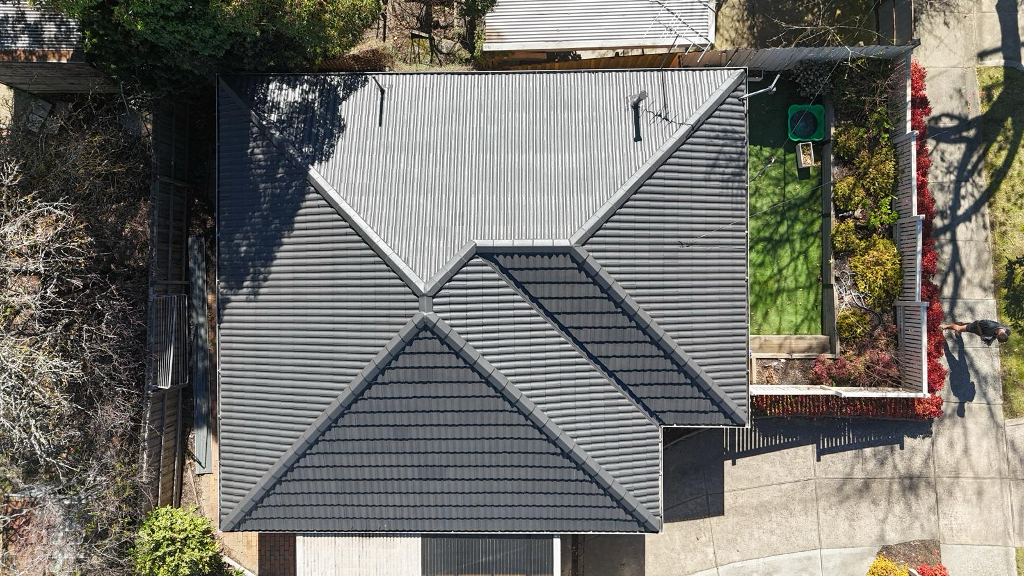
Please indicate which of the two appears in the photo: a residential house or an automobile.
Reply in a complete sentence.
The one in the frame is a residential house.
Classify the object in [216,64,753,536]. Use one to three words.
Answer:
house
